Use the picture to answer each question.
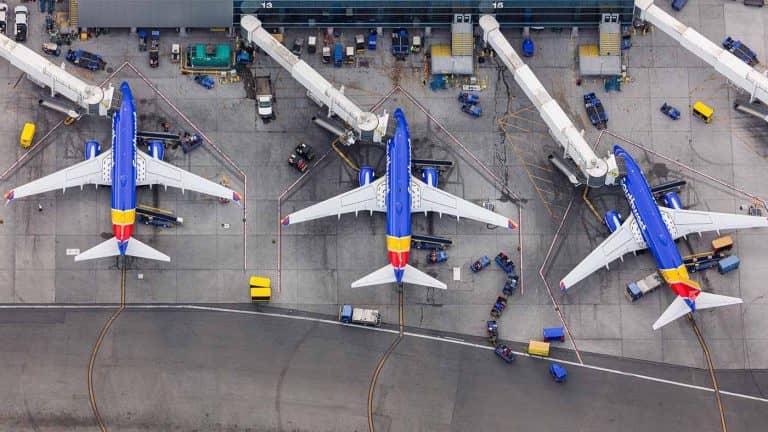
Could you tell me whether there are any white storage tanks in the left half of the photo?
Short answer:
No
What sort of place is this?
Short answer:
airport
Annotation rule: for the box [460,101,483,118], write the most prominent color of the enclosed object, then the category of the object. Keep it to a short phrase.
blue work vehicle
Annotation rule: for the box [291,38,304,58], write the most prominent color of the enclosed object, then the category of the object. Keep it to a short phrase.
gray vehicle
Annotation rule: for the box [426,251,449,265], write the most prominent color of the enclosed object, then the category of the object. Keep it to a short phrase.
blue vehicle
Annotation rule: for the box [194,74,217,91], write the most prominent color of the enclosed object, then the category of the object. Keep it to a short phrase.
blue work vehicle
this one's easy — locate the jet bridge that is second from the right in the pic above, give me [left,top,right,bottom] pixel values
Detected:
[479,13,627,188]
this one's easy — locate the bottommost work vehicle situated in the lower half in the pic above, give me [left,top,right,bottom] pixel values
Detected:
[547,359,568,383]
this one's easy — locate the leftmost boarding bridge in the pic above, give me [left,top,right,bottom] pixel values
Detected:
[0,27,122,118]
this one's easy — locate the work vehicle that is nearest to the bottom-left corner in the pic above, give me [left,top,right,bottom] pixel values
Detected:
[136,204,185,231]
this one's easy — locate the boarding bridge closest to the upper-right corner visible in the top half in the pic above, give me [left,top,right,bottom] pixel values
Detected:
[635,0,768,113]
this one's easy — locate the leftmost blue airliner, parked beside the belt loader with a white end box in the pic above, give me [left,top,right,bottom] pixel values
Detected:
[4,82,242,262]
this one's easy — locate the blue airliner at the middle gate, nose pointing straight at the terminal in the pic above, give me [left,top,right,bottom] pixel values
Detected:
[279,108,519,289]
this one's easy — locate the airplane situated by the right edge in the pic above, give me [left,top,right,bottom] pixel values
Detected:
[559,146,768,332]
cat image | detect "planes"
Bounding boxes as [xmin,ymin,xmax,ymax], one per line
[4,82,242,262]
[559,146,768,332]
[279,108,519,289]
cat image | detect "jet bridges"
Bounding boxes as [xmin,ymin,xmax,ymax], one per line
[479,13,627,188]
[635,0,768,113]
[239,13,394,144]
[0,27,122,118]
